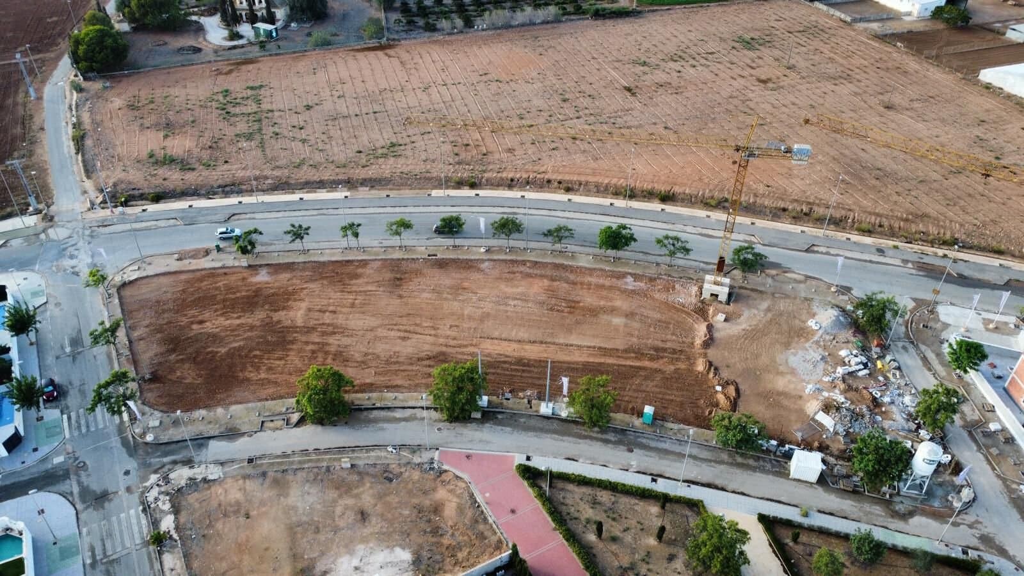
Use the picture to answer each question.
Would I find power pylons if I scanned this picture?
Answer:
Yes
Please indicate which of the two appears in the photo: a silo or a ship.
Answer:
silo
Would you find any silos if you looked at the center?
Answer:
No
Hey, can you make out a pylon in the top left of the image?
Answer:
Yes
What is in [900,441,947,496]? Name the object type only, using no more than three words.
silo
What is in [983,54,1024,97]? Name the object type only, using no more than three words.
greenhouse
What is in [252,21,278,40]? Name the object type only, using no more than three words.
building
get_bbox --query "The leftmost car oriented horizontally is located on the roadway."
[211,227,243,240]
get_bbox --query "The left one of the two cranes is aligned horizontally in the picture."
[400,113,824,275]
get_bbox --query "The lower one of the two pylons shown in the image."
[3,157,41,211]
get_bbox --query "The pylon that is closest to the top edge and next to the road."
[15,56,39,98]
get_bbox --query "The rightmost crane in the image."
[799,109,1024,186]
